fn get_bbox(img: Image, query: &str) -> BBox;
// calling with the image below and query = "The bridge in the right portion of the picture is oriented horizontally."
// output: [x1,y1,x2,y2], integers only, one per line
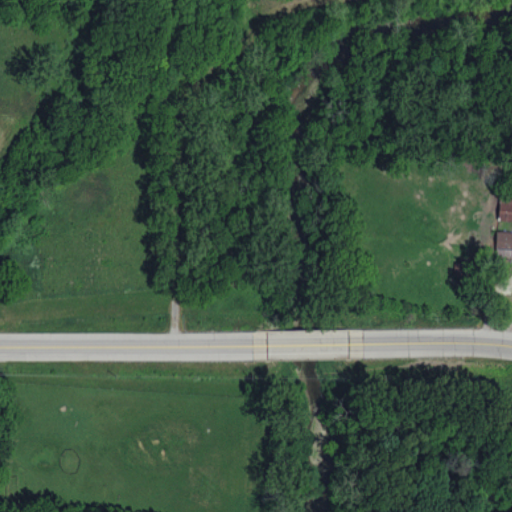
[254,330,364,360]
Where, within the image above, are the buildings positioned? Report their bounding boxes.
[497,232,512,260]
[500,201,512,221]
